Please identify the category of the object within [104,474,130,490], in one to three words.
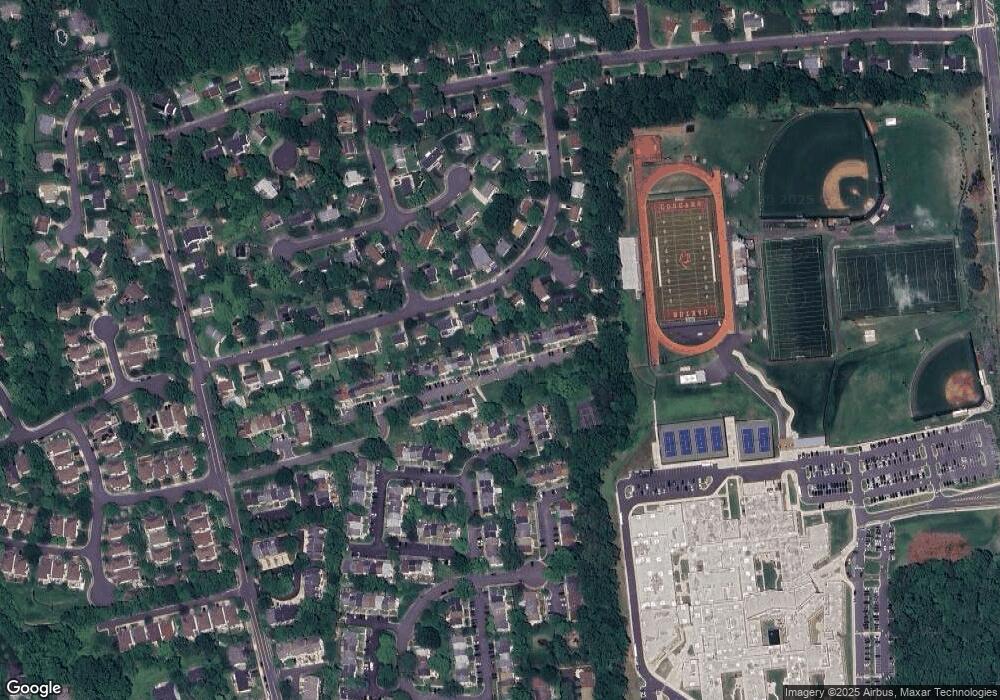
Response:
house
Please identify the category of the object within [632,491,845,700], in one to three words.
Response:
building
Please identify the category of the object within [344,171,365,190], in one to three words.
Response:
house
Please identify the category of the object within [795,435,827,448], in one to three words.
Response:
building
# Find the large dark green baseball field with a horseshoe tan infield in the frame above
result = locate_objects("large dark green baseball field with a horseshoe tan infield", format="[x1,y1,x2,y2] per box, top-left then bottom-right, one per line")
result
[761,108,882,217]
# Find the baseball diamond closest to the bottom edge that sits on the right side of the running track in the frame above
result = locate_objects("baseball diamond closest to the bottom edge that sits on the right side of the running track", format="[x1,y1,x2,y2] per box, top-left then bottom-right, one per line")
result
[911,332,983,417]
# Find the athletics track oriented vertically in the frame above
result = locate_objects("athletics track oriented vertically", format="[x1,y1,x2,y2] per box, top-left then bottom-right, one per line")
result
[634,136,733,371]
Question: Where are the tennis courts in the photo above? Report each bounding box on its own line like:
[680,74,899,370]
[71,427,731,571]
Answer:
[679,430,692,455]
[757,427,771,452]
[741,429,755,453]
[694,428,707,453]
[710,426,723,451]
[663,432,677,457]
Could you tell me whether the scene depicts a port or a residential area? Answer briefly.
residential area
